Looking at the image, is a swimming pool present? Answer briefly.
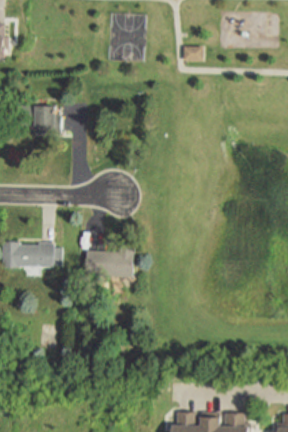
No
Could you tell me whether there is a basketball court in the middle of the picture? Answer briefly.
No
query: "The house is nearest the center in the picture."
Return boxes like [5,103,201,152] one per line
[86,249,136,278]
